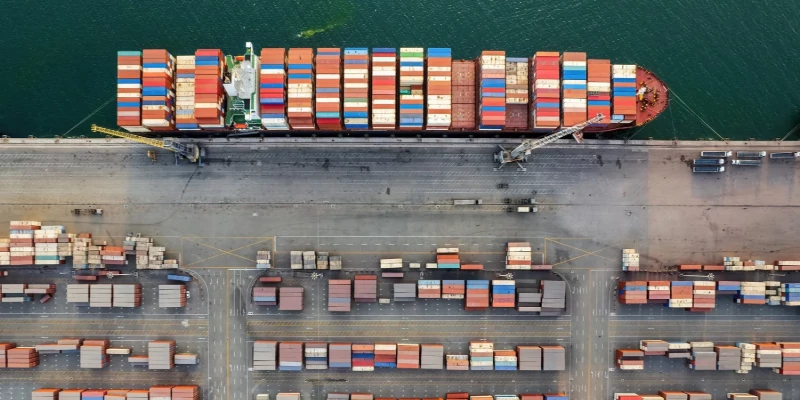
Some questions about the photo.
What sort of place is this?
port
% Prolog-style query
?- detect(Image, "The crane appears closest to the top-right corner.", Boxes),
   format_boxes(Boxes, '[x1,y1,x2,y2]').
[494,112,605,170]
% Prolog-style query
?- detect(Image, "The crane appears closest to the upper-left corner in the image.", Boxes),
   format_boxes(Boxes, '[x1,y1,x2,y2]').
[91,121,208,168]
